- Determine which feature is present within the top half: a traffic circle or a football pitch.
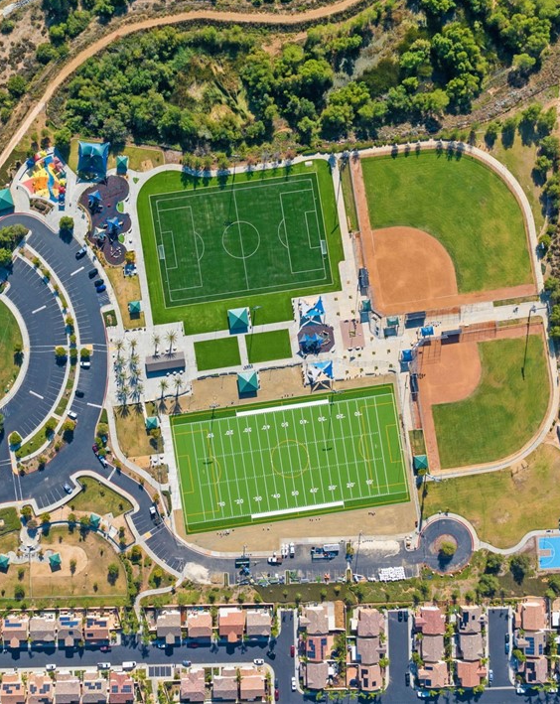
football pitch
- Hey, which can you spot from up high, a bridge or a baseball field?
baseball field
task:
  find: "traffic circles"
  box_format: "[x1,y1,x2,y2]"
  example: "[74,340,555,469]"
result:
[420,520,472,571]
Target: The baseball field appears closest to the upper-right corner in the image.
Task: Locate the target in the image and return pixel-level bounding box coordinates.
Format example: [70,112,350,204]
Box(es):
[349,145,538,316]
